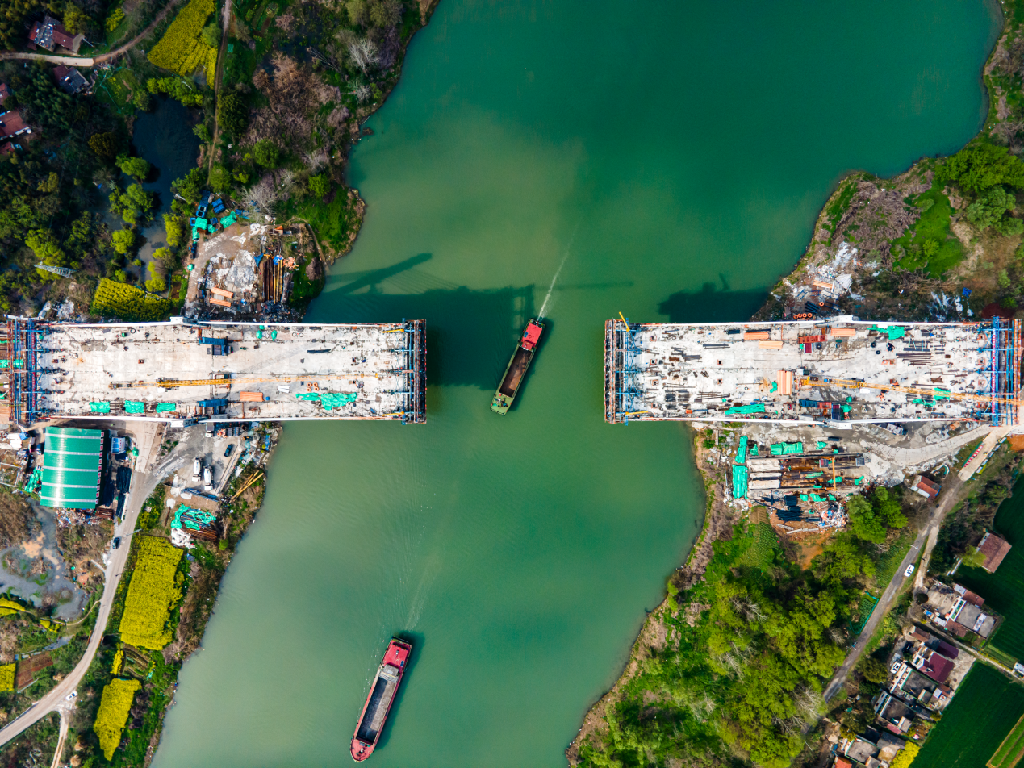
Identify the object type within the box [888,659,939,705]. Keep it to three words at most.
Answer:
house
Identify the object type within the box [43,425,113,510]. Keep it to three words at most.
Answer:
shed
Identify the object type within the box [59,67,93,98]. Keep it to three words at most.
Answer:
house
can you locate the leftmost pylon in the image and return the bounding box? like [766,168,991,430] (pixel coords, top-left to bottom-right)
[30,258,79,283]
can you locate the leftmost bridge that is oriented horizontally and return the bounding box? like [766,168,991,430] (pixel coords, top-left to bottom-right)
[31,319,410,431]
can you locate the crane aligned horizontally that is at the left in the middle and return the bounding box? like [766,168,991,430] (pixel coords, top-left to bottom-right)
[104,370,378,391]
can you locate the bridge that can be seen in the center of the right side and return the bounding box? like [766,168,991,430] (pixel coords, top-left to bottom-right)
[620,319,997,424]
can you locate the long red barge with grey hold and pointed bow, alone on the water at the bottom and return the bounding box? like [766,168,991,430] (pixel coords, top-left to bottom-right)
[351,637,411,765]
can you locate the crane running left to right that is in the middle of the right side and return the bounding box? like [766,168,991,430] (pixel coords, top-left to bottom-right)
[791,371,1024,399]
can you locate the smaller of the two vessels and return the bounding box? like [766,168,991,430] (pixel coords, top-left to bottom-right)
[491,319,544,415]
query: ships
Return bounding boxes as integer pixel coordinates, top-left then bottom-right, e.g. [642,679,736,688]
[351,637,411,765]
[491,319,544,415]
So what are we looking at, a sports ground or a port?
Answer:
port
